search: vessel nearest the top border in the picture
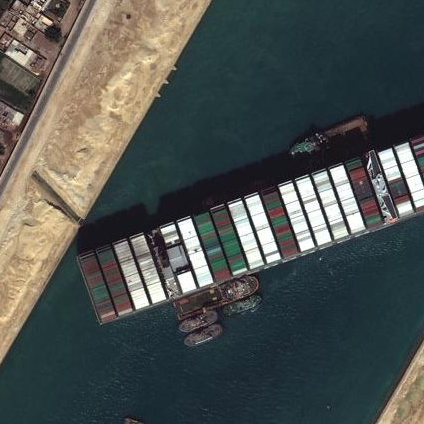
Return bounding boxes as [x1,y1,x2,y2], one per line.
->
[289,117,370,161]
